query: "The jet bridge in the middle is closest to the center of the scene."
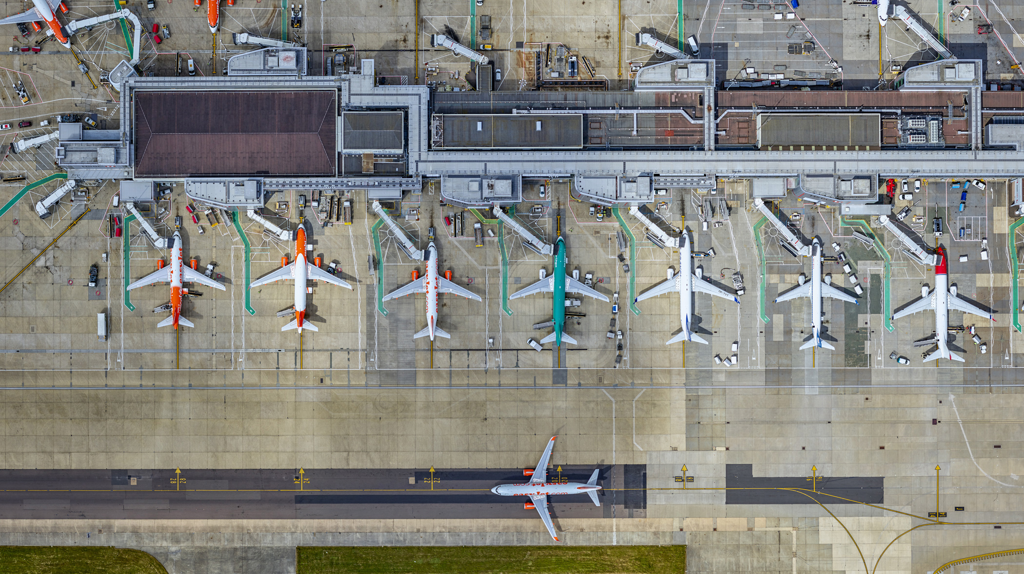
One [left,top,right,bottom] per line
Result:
[492,206,558,257]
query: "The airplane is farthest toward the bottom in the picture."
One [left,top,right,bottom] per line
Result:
[491,438,603,541]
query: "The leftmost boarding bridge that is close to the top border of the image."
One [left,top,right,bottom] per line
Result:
[62,6,144,69]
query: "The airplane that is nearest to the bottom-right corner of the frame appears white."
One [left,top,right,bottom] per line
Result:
[890,247,997,363]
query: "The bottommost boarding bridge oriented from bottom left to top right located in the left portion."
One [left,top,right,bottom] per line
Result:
[36,178,81,220]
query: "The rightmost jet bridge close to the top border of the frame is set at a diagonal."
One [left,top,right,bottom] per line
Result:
[887,4,961,59]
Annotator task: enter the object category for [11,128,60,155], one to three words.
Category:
jet bridge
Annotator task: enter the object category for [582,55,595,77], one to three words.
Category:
vehicle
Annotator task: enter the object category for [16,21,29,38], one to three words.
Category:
vehicle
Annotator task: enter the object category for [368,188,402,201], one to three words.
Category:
shed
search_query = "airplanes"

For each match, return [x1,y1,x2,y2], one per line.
[776,238,860,349]
[512,236,610,346]
[252,223,350,333]
[384,241,481,340]
[491,438,603,541]
[0,0,74,47]
[632,230,738,345]
[878,0,890,26]
[890,247,997,363]
[126,231,225,329]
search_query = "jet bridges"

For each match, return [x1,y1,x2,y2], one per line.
[36,178,81,220]
[633,33,697,59]
[628,205,685,249]
[11,128,60,155]
[874,215,942,267]
[124,201,173,250]
[1011,206,1024,221]
[748,200,818,258]
[231,32,300,48]
[492,206,558,257]
[371,202,429,262]
[887,4,961,59]
[246,208,298,243]
[62,6,144,69]
[429,34,491,64]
